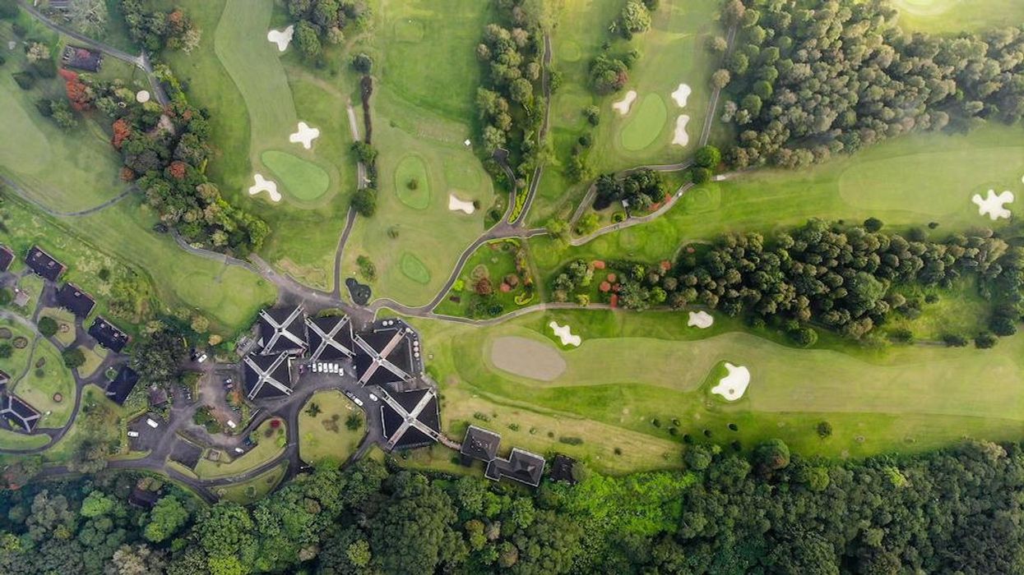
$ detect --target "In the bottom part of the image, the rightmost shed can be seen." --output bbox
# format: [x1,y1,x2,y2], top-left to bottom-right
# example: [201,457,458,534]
[552,456,577,484]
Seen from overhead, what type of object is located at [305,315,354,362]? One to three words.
building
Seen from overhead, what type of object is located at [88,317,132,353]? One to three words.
house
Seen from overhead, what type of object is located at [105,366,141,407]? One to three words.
house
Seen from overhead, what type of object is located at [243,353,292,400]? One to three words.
building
